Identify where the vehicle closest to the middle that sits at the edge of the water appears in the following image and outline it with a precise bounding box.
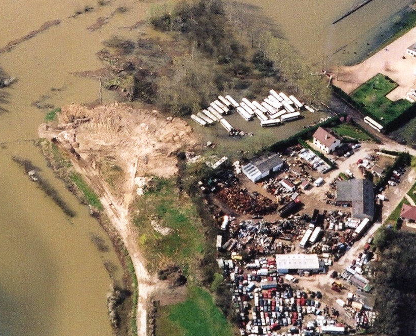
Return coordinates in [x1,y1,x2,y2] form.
[211,158,228,171]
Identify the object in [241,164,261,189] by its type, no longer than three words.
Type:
building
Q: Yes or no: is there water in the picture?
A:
Yes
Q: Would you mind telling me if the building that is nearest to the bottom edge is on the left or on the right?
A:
right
